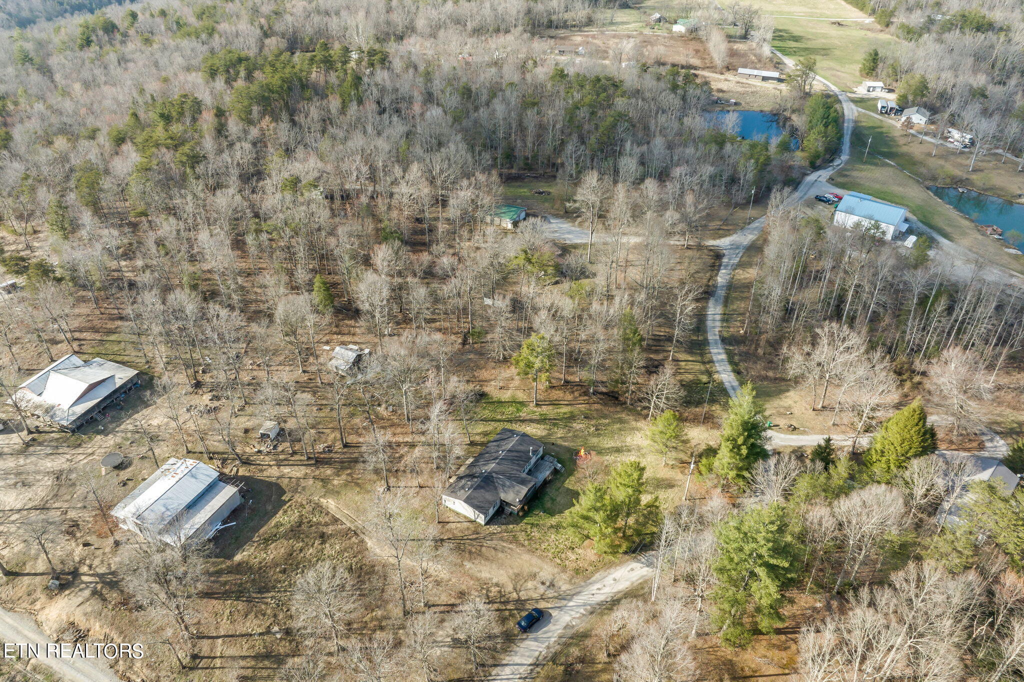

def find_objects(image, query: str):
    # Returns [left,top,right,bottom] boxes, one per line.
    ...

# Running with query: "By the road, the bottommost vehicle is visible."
[515,607,546,632]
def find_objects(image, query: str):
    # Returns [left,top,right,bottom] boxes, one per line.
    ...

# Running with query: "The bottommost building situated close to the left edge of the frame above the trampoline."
[0,350,141,437]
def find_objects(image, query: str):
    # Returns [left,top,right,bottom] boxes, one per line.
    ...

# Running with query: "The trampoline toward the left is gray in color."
[98,455,123,473]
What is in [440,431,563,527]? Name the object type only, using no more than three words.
house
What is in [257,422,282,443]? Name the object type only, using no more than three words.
shed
